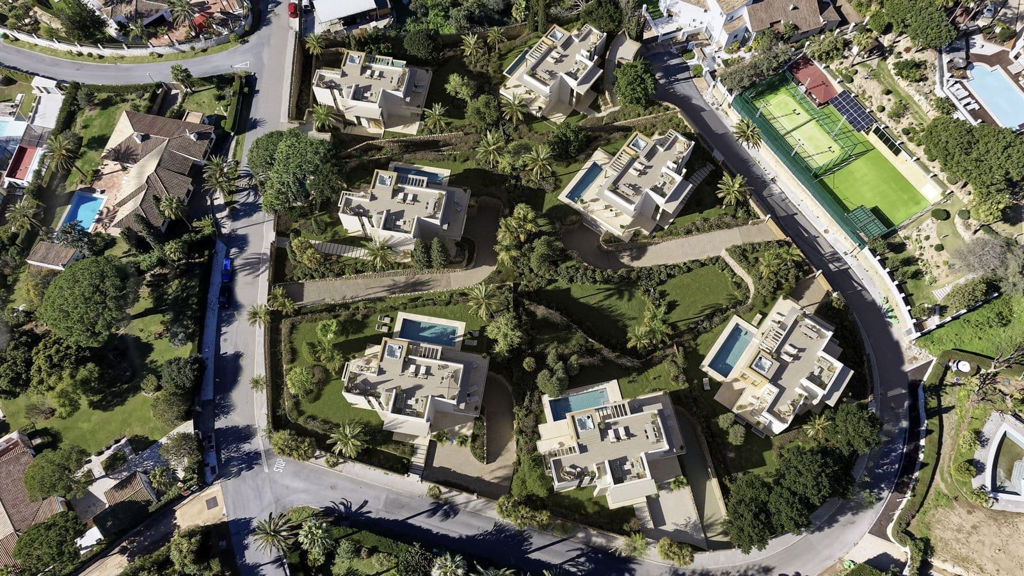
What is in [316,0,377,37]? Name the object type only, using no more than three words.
shed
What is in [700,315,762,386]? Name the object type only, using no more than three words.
swimming pool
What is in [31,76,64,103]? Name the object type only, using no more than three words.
house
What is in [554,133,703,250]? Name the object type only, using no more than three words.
house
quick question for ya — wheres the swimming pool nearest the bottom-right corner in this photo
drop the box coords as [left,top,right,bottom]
[983,426,1024,505]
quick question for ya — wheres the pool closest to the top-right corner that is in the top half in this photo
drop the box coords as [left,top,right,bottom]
[963,60,1024,131]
